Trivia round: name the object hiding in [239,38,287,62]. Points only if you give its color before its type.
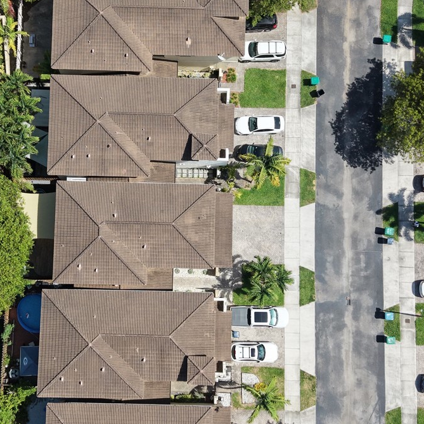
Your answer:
white car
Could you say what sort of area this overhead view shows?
residential area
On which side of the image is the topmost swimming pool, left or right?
left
